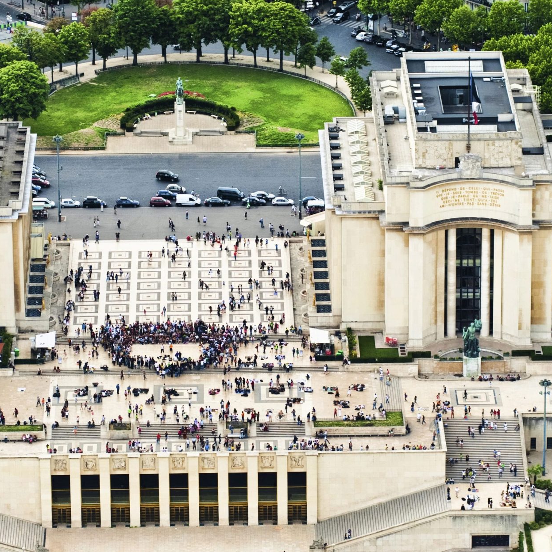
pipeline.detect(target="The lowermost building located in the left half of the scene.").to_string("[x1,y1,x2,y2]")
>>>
[38,447,319,528]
